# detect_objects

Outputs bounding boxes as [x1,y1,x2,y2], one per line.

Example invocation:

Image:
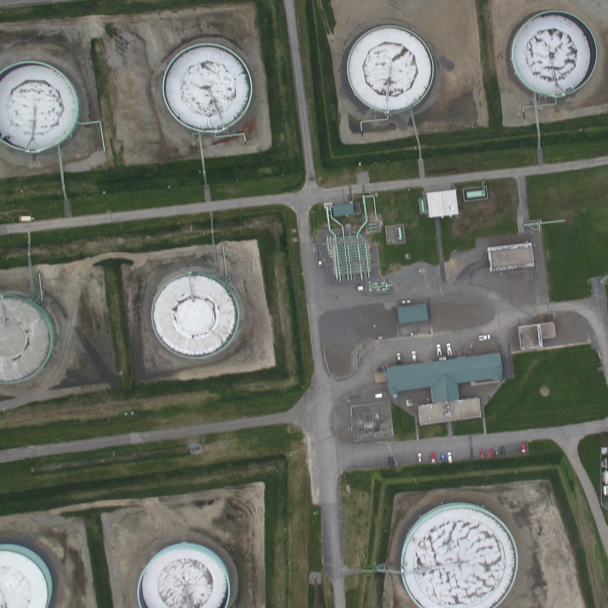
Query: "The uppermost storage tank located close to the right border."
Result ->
[506,10,596,101]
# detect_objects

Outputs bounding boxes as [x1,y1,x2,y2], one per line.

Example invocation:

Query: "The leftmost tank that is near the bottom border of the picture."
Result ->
[0,543,58,608]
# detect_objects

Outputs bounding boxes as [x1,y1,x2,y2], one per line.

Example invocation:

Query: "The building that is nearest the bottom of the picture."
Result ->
[418,396,481,426]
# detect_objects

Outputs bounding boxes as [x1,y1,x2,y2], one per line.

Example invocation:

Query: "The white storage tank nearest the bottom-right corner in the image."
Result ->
[399,500,518,608]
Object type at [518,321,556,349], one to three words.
building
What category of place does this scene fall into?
industrial area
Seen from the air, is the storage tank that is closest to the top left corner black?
No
